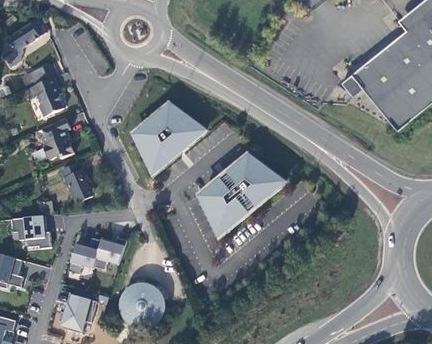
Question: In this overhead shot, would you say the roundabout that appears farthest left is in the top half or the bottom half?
top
